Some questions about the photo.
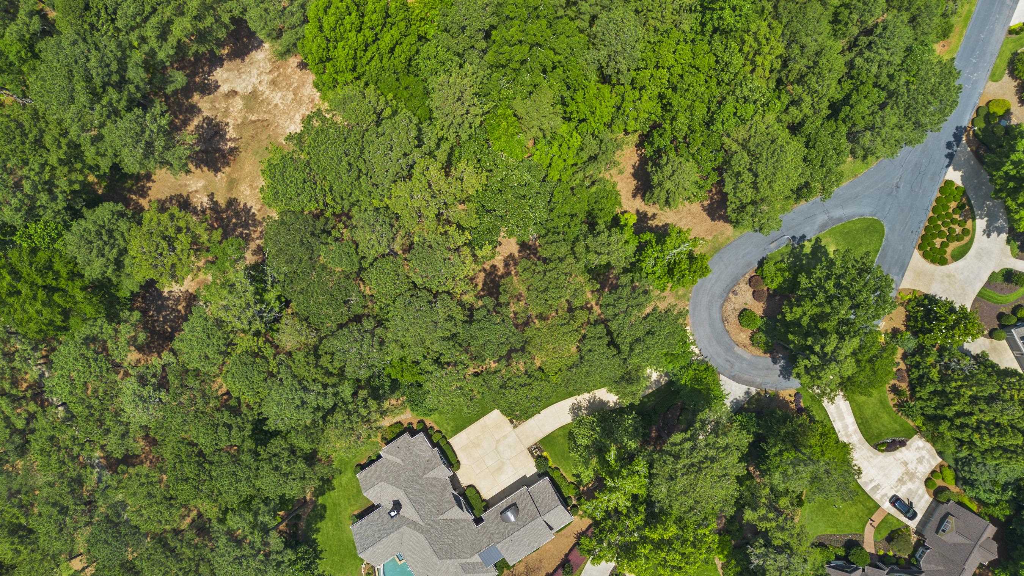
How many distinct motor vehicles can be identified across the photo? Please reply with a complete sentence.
Altogether the scene contains 1 motor vehicle.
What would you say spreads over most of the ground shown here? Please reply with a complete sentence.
For the most part, this view shows trees.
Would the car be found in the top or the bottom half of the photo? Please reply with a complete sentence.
You can find the car in the bottom half.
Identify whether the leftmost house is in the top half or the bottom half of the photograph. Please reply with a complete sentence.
The leftmost house is in the bottom half of the image.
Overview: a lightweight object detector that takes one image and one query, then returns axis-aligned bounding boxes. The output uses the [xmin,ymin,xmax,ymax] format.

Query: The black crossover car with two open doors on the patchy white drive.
[888,494,917,522]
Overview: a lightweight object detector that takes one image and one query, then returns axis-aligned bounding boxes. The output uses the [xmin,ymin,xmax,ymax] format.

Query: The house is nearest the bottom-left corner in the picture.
[350,431,574,576]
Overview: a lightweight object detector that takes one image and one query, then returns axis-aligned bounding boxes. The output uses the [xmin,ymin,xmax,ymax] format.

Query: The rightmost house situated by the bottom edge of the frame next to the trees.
[822,497,998,576]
